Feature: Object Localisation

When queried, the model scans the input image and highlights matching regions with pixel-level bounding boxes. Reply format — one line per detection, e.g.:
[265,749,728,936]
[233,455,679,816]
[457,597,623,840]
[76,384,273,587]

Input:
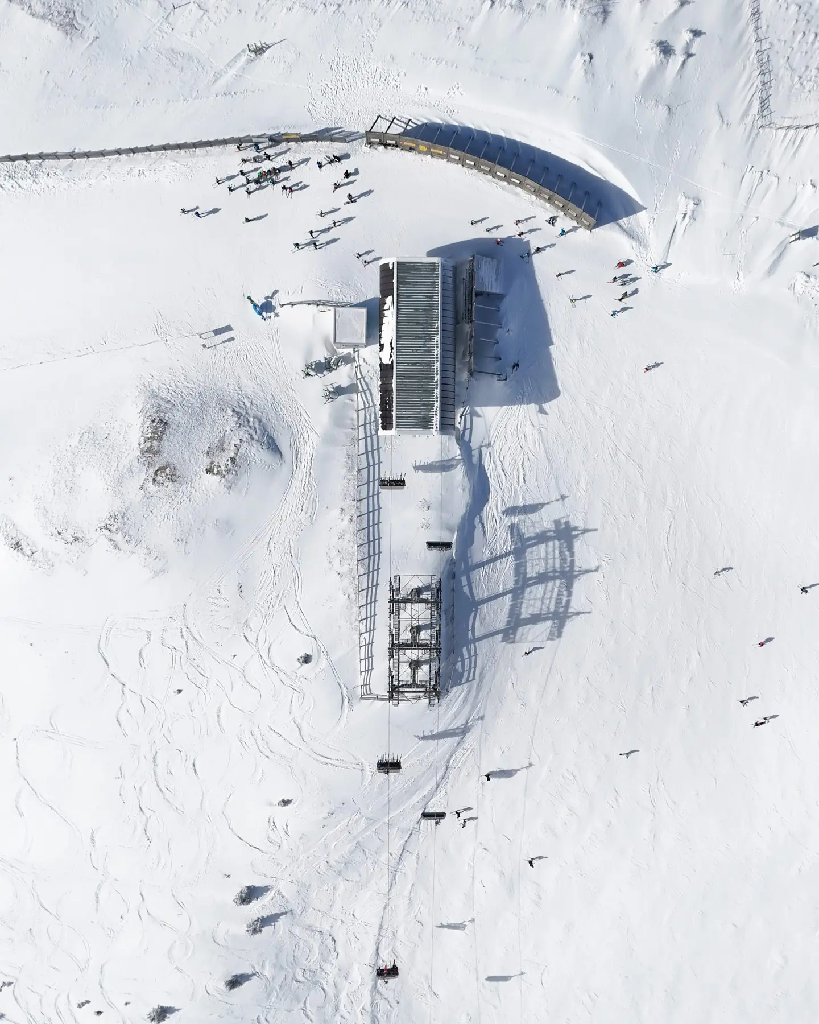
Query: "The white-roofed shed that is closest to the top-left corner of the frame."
[334,308,367,348]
